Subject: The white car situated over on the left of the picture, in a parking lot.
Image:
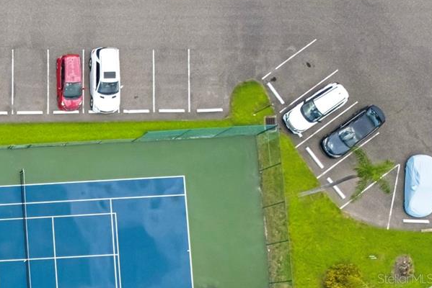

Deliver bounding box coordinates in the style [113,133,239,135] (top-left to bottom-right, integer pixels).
[88,44,124,114]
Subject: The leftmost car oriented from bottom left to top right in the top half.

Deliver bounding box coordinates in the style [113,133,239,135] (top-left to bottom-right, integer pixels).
[286,79,355,133]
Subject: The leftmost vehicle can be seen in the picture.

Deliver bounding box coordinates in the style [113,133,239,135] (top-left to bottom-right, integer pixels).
[55,53,87,111]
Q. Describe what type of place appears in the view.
sports ground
